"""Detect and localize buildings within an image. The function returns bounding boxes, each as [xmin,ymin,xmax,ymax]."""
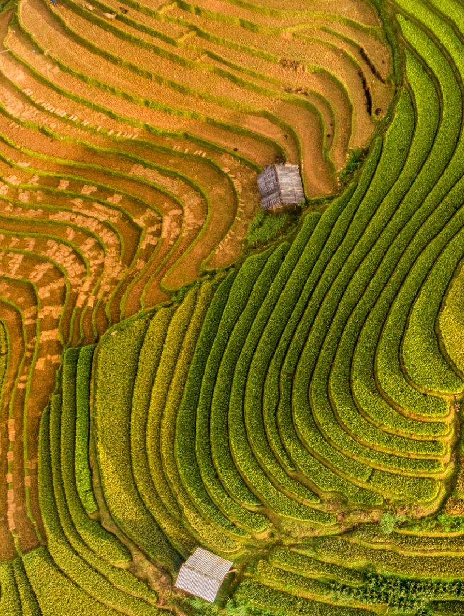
[178,547,230,602]
[258,166,309,212]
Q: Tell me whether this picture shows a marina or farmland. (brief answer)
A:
farmland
